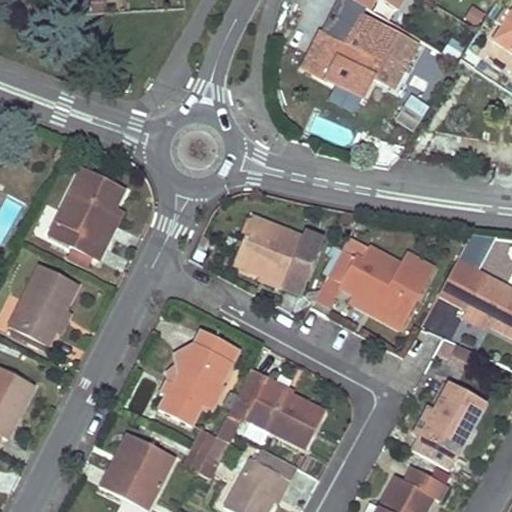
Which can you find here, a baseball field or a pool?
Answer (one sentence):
Looking from above, you can make out a pool.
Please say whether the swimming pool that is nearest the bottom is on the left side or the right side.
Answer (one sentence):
The swimming pool that is nearest the bottom sits on the left side.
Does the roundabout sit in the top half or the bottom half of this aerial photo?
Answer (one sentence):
Seen from above, the roundabout lies in the top half of the view.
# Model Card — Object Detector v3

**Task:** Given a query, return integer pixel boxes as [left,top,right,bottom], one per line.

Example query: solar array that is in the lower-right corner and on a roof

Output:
[455,405,482,446]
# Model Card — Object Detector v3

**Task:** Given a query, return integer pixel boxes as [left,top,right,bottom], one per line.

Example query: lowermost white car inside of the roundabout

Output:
[218,154,235,178]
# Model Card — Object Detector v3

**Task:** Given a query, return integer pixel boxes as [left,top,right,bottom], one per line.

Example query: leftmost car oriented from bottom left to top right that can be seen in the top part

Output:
[179,92,199,114]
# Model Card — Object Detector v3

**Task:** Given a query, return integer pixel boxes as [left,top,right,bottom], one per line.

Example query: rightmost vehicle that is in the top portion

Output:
[290,30,304,48]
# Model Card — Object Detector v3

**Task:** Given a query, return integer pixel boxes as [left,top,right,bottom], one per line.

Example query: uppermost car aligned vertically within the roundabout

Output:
[218,108,230,131]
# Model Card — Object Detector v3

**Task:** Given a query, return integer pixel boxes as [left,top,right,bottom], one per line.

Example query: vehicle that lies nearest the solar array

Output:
[408,338,424,357]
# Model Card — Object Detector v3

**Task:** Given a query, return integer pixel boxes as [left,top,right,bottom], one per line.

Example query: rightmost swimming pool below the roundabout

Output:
[126,374,160,414]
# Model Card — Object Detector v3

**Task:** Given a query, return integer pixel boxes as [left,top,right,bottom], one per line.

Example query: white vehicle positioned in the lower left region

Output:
[86,412,104,436]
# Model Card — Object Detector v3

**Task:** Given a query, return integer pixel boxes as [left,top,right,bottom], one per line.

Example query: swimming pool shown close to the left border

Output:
[0,197,24,248]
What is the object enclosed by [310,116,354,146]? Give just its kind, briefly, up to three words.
swimming pool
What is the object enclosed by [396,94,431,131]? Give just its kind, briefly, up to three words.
greenhouse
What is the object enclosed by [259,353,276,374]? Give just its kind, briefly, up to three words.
car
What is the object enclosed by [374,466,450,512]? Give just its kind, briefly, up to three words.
house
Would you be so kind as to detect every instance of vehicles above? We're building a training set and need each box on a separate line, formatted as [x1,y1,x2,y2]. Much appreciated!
[218,108,230,131]
[56,341,75,356]
[300,311,316,334]
[332,329,348,352]
[274,313,294,328]
[408,338,424,357]
[259,353,276,374]
[86,412,104,436]
[218,154,235,178]
[290,30,304,48]
[179,92,199,114]
[190,268,210,283]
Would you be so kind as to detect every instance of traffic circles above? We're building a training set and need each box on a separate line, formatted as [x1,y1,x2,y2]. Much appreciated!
[129,80,266,246]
